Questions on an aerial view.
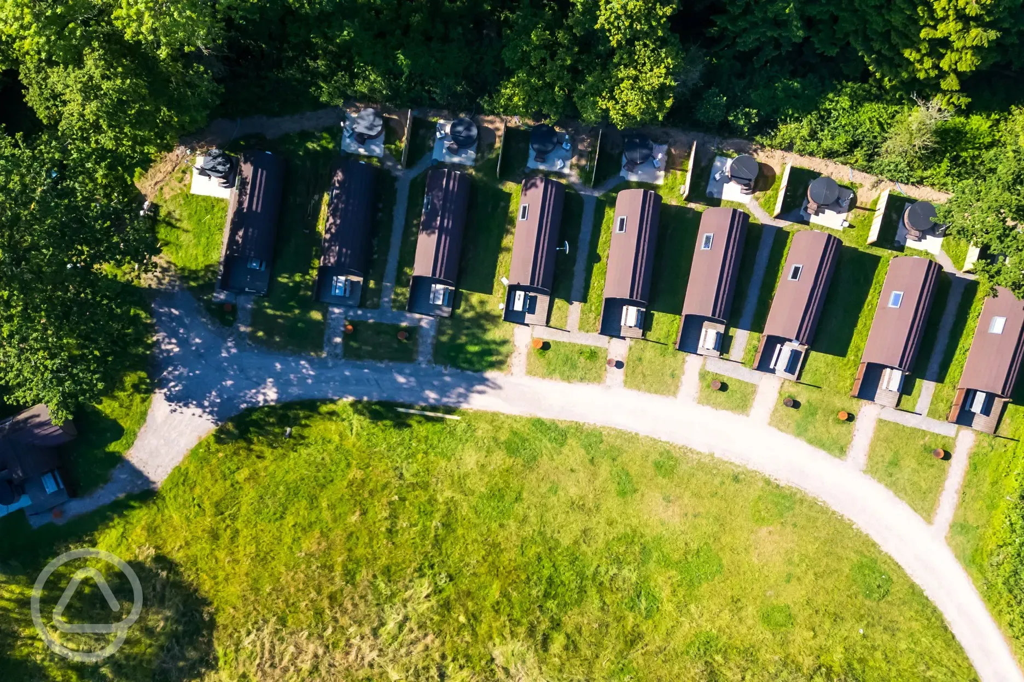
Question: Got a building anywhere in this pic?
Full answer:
Yes, looking at the shot, I can spot a building.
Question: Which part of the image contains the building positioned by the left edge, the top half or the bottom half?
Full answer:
Seen from above, the building positioned by the left edge lies in the bottom half of the view.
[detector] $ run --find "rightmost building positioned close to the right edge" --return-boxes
[944,285,1024,435]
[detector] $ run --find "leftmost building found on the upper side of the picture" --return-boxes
[216,146,290,299]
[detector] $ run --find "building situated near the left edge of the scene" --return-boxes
[0,400,88,515]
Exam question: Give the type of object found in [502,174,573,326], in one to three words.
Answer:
building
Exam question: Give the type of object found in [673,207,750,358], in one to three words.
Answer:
building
